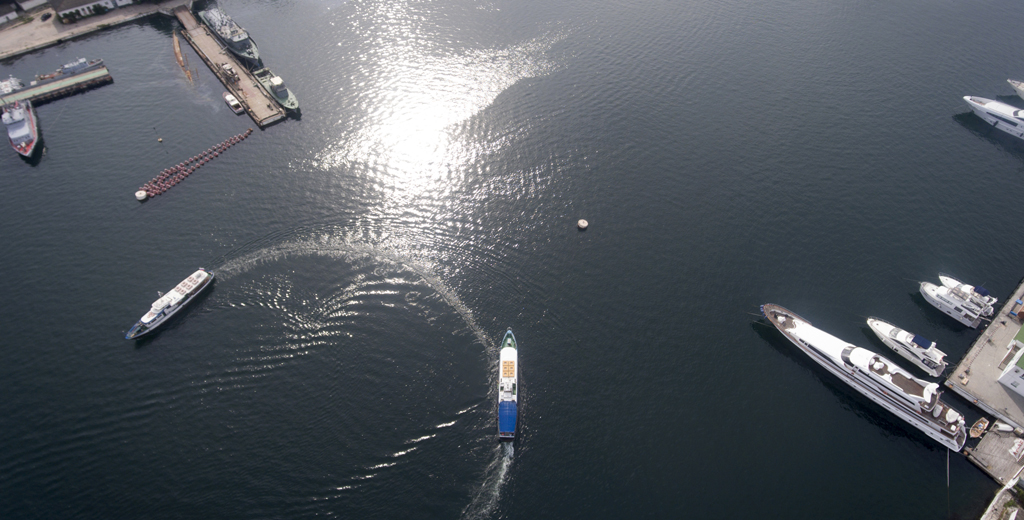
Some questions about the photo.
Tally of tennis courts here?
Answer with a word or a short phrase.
zero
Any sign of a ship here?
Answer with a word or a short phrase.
Yes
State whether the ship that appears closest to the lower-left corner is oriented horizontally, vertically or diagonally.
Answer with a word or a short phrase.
diagonally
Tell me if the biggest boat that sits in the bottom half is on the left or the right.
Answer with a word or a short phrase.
right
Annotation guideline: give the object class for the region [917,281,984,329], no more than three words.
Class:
boat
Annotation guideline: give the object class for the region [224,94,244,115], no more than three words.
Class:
boat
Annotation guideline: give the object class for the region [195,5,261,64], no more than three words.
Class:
ship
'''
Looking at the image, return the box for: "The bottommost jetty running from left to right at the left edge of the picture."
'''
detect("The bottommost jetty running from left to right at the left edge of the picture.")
[0,64,109,111]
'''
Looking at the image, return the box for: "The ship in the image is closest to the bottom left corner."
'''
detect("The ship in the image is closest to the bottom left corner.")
[124,266,220,340]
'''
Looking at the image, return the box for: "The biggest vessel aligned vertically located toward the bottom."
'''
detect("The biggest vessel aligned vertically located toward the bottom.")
[497,328,520,441]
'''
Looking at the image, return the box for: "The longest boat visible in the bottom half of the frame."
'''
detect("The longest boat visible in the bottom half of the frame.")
[760,303,969,452]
